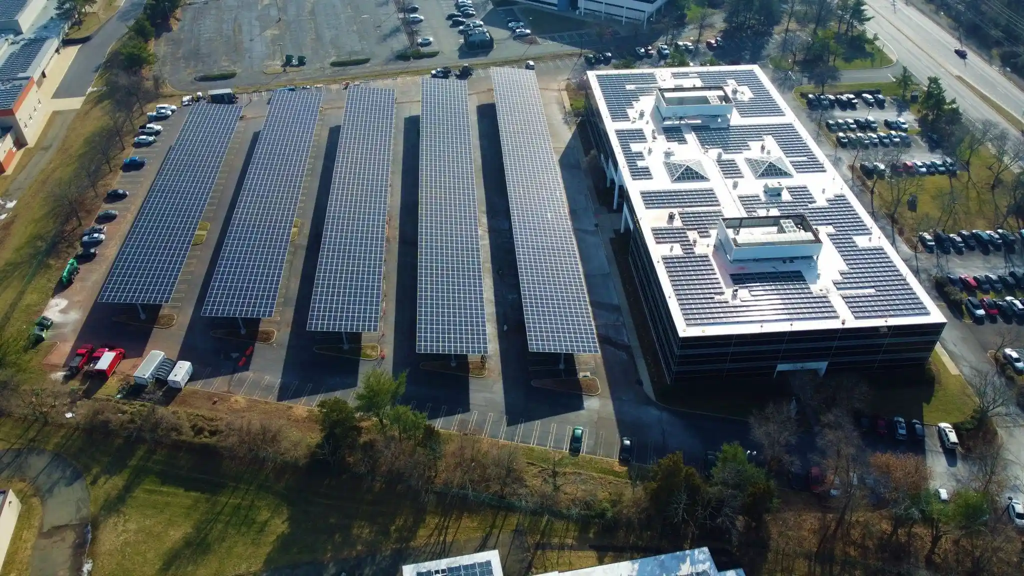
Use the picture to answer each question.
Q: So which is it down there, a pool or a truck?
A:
truck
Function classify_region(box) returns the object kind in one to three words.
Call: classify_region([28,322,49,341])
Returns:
work vehicle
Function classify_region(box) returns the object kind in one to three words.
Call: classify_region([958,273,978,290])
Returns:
car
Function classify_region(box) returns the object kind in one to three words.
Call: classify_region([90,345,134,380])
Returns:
truck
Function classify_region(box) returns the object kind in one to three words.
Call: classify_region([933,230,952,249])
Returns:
vehicle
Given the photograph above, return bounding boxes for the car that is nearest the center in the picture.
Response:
[570,427,584,454]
